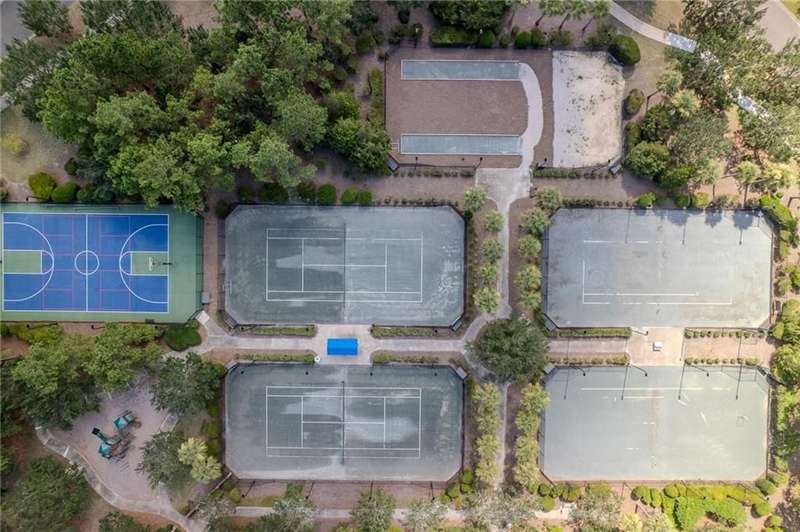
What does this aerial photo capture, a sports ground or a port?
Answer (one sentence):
This looks like a sports ground.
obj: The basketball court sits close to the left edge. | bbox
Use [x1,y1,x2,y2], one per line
[0,203,203,323]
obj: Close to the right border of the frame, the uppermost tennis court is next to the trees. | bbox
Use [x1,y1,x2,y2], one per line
[544,207,773,328]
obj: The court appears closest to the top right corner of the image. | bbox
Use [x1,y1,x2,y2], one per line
[553,50,623,167]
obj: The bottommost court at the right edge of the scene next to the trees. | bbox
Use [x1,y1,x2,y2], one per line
[540,365,771,482]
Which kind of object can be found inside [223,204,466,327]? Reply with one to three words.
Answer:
tennis court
